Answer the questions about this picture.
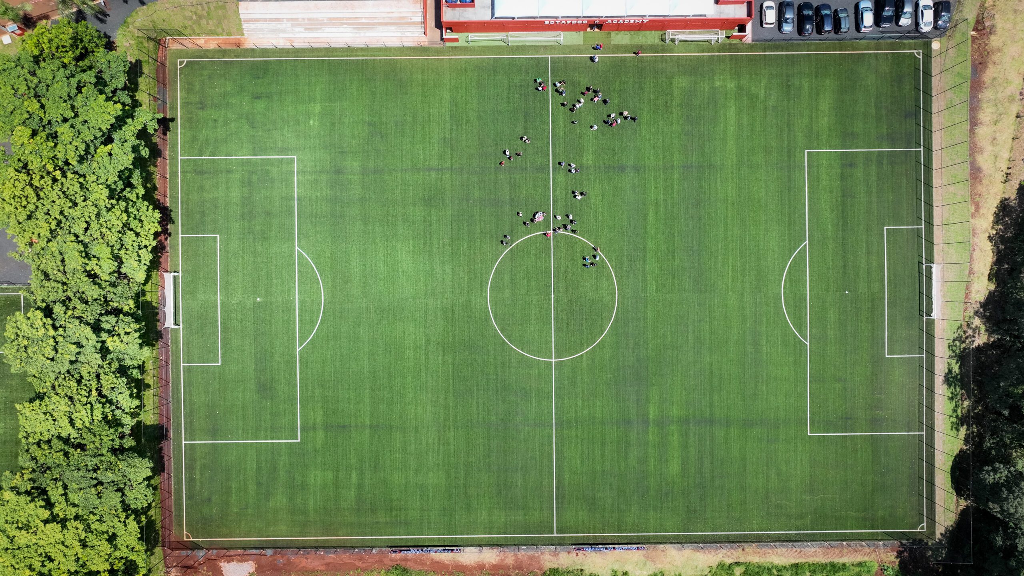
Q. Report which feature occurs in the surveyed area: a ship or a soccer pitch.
soccer pitch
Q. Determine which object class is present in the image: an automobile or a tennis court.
automobile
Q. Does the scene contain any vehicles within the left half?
No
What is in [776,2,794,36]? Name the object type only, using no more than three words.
car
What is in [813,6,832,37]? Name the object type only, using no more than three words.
car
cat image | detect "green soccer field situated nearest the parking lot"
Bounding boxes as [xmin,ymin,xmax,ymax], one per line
[167,41,937,550]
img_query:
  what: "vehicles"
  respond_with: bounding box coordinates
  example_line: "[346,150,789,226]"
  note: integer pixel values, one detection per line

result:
[832,9,849,37]
[893,0,911,29]
[759,3,776,30]
[776,2,794,36]
[813,6,832,37]
[795,4,813,38]
[874,0,893,29]
[855,2,873,34]
[930,1,949,32]
[914,0,933,34]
